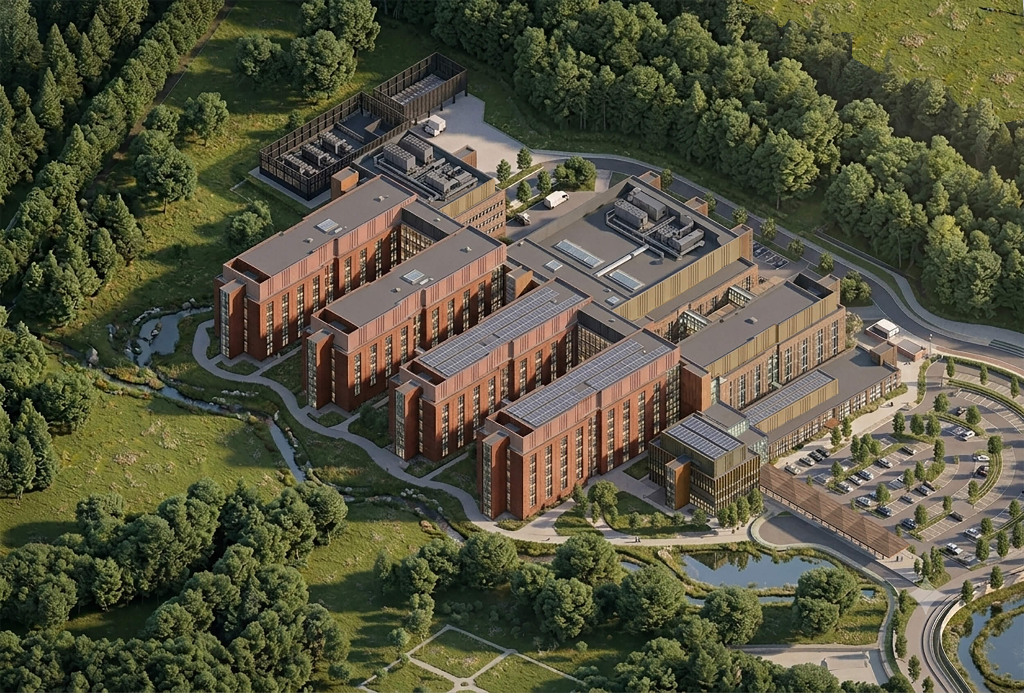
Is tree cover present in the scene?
Yes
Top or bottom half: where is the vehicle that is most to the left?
top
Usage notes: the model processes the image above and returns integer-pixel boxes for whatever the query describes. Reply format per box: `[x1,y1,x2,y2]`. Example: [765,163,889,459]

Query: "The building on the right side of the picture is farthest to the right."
[896,339,926,365]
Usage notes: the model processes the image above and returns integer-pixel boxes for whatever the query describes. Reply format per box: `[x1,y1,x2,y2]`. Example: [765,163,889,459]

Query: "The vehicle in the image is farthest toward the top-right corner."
[873,320,897,340]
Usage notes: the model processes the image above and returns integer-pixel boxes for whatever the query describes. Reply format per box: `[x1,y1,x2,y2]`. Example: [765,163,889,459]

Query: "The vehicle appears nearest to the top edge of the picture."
[425,115,445,137]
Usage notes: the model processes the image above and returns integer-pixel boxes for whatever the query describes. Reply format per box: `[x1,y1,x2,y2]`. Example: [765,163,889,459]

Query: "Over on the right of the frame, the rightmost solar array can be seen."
[749,375,832,426]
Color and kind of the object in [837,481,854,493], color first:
white vehicle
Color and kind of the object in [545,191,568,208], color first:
white vehicle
